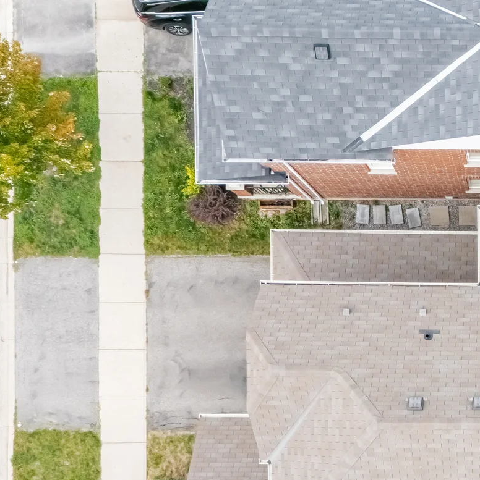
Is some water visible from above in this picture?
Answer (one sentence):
No, the scene doesn't show any water.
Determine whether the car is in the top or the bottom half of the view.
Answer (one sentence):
You can find the car in the top half.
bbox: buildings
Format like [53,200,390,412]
[195,0,480,208]
[187,205,480,480]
